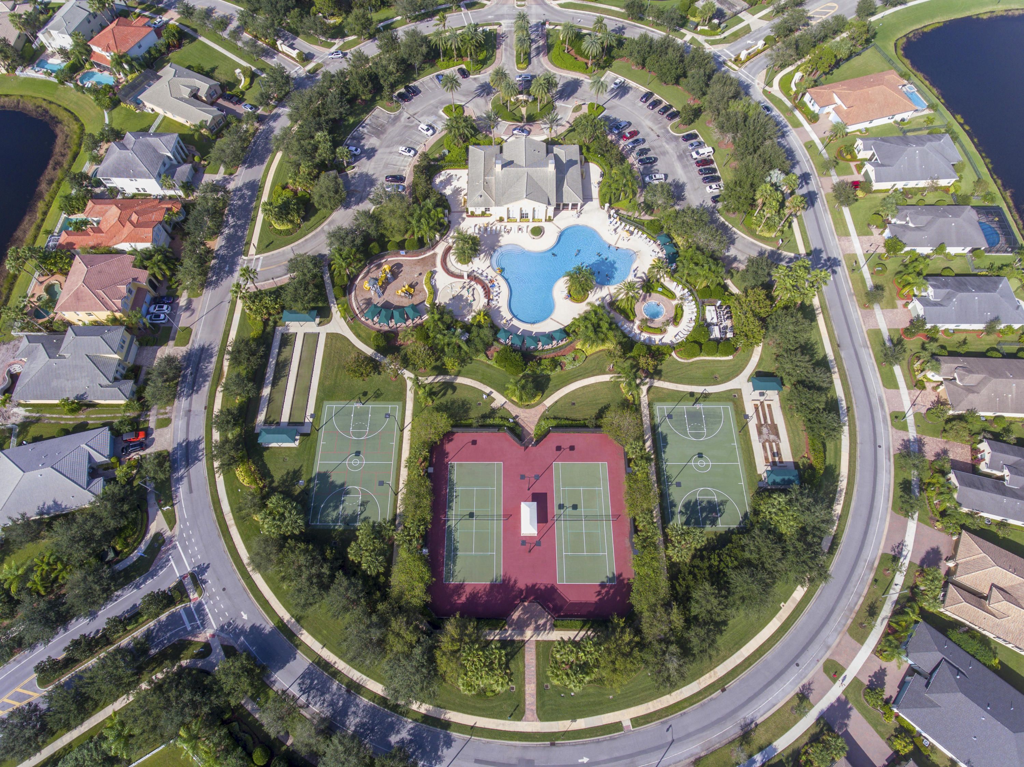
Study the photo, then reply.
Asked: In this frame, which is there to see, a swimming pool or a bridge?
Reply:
swimming pool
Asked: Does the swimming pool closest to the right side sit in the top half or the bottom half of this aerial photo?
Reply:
top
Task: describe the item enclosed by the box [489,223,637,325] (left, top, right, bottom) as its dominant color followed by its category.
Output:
blue swimming pool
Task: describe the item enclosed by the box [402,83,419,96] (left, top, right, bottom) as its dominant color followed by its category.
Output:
black vehicle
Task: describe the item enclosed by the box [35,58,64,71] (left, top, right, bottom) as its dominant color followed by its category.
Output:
blue swimming pool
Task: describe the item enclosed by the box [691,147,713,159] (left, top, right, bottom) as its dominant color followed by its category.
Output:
white vehicle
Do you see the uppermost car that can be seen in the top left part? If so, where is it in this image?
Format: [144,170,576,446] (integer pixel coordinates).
[151,13,167,28]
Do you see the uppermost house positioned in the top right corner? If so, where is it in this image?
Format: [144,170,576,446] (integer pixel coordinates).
[802,70,924,133]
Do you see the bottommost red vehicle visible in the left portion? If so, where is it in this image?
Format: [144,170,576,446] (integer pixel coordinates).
[125,431,146,443]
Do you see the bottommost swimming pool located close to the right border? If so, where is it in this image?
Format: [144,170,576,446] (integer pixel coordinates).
[978,220,1001,246]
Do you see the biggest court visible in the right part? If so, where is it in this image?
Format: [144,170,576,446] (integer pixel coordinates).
[653,402,755,531]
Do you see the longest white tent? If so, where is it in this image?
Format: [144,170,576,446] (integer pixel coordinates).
[521,502,537,536]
